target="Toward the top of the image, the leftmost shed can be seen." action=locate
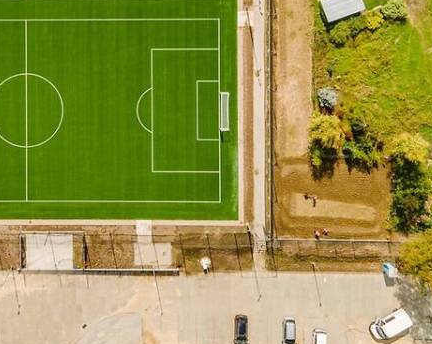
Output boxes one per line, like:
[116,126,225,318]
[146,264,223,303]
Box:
[318,0,365,23]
